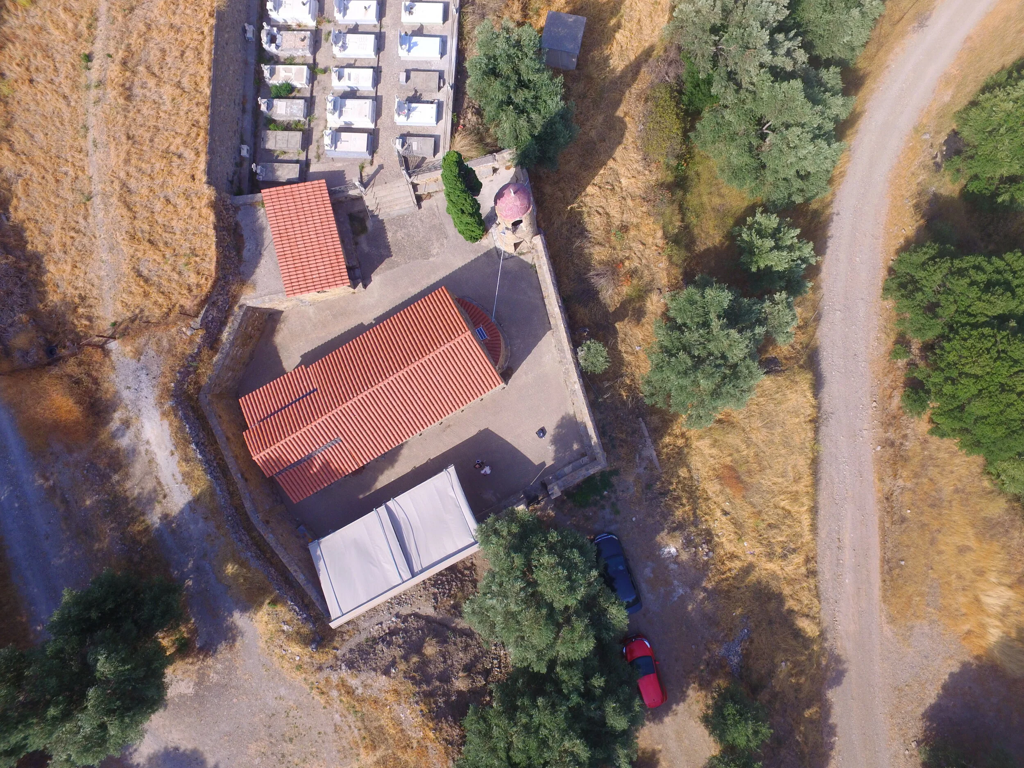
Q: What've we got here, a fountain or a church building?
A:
church building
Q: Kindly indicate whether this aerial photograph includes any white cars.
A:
No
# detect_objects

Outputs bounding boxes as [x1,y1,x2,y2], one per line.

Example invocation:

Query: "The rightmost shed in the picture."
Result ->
[541,11,586,75]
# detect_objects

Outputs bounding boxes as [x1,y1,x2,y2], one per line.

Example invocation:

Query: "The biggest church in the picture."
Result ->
[237,283,504,506]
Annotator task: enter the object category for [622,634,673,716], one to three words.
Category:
car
